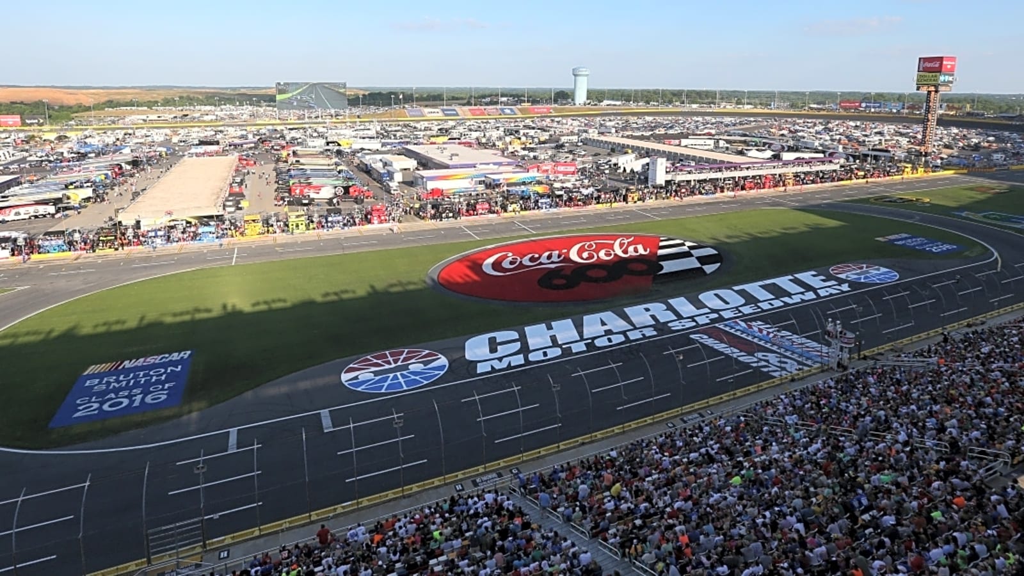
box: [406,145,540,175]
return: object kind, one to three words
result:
building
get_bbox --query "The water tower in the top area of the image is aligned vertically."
[572,66,589,105]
